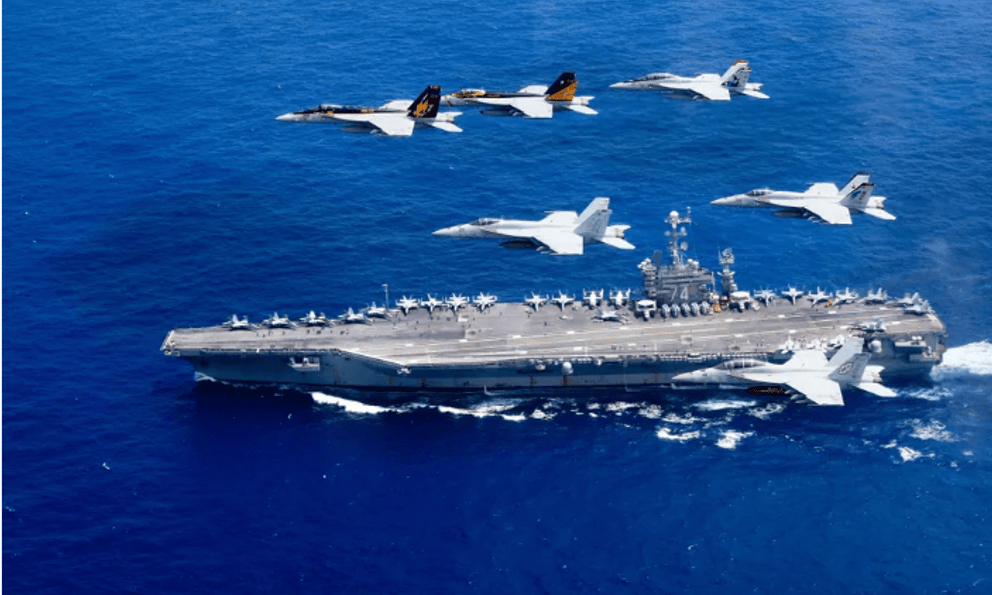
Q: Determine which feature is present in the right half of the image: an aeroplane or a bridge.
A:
aeroplane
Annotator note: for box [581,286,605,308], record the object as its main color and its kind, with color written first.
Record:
white airplane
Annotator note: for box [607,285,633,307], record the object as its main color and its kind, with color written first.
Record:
white airplane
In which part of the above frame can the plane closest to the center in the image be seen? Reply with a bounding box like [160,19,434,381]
[472,289,493,308]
